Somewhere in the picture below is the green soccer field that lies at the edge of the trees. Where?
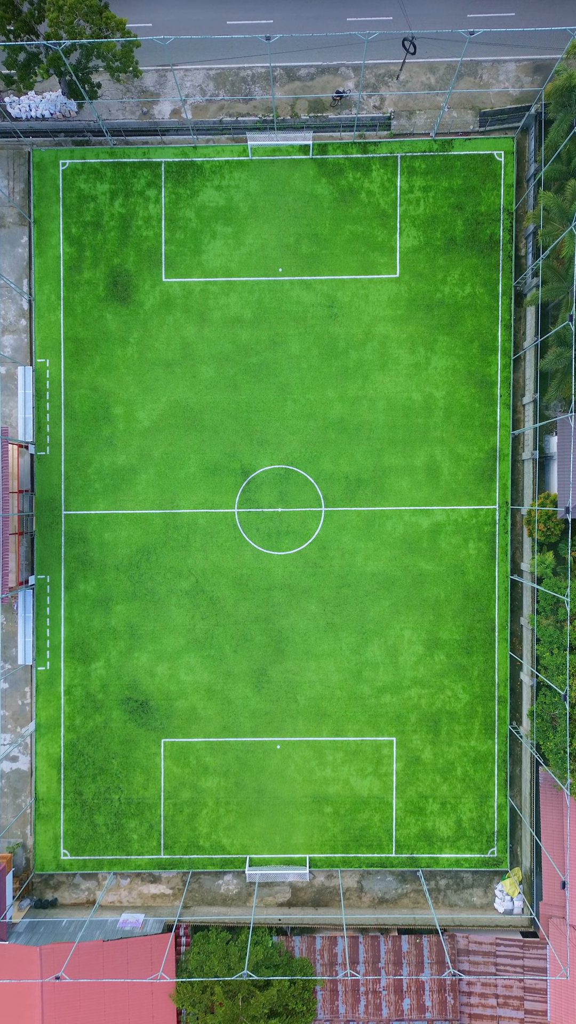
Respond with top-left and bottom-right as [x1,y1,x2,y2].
[32,136,515,873]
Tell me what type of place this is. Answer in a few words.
sports ground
